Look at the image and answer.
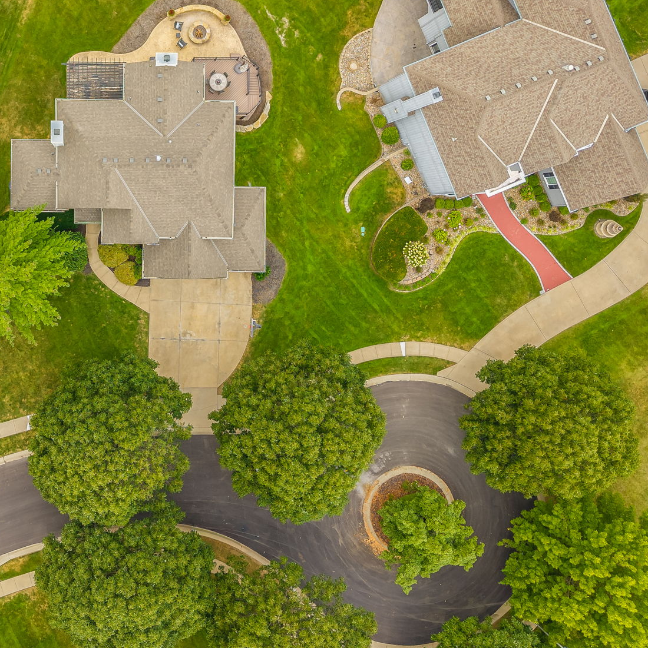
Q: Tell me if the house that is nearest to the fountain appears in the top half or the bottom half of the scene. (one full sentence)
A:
You can find the house that is nearest to the fountain in the top half.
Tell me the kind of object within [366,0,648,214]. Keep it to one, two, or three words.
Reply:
house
